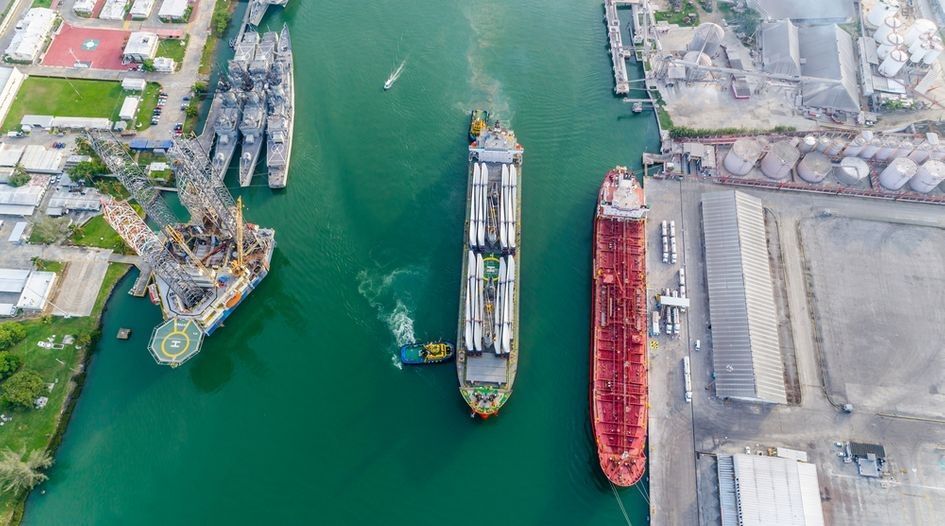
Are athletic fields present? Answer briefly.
Yes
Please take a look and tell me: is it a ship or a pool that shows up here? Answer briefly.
ship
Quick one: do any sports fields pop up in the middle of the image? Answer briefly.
No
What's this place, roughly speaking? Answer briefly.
industrial area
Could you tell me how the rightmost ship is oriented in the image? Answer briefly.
up and down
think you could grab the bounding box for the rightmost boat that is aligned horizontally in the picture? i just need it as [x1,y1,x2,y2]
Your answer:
[400,341,455,365]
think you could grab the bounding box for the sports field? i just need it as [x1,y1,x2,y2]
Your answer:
[7,74,121,126]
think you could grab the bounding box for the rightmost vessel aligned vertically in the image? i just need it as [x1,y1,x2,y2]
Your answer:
[589,166,653,486]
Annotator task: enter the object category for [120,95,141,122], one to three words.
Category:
shed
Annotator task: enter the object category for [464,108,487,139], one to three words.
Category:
boat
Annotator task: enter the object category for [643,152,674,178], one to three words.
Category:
pier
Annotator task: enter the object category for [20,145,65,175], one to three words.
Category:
building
